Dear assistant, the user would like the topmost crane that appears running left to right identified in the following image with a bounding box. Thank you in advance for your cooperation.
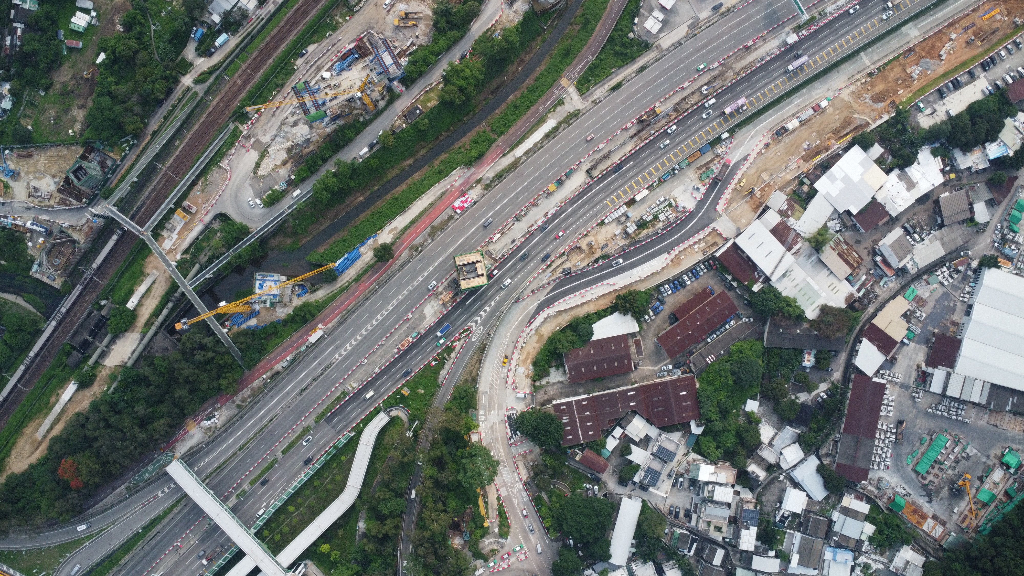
[246,72,376,112]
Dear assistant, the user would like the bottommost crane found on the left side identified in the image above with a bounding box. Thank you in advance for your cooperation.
[175,261,336,330]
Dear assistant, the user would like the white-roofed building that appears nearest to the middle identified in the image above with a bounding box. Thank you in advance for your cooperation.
[589,312,639,340]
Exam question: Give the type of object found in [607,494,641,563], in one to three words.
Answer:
building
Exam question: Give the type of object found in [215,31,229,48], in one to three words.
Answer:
vehicle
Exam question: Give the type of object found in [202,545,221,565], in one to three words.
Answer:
vehicle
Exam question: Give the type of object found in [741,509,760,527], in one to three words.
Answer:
solar array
